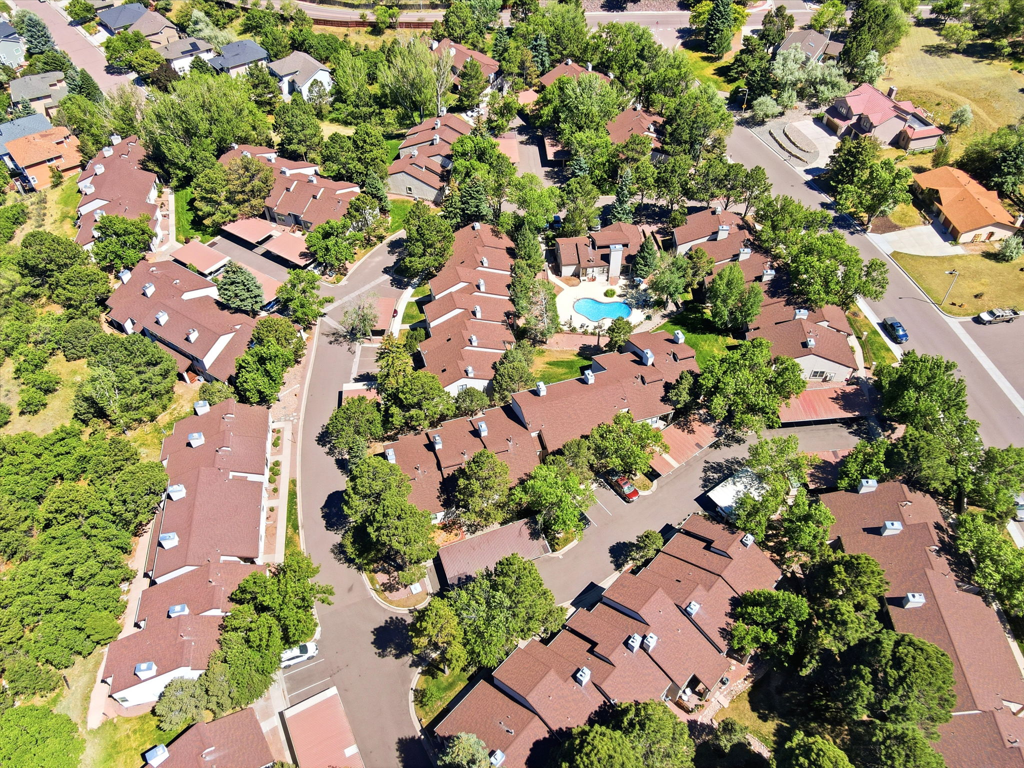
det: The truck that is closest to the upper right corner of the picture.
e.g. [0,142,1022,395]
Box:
[980,305,1024,326]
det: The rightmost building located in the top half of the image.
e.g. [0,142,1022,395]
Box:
[912,166,1023,247]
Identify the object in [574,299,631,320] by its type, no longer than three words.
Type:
swimming pool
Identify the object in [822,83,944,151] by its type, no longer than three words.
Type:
house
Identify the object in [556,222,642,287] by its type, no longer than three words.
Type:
building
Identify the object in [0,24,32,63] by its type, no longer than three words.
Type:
house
